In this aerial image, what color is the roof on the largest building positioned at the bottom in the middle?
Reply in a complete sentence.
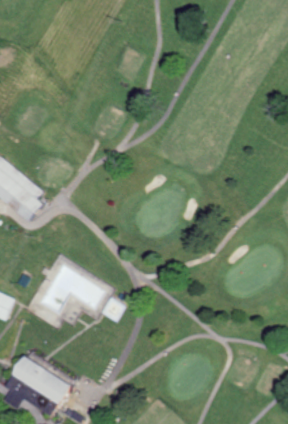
From above, the roof of the largest building positioned at the bottom in the middle looks white.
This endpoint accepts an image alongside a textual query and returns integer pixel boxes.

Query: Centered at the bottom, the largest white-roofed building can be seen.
[102,297,126,322]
